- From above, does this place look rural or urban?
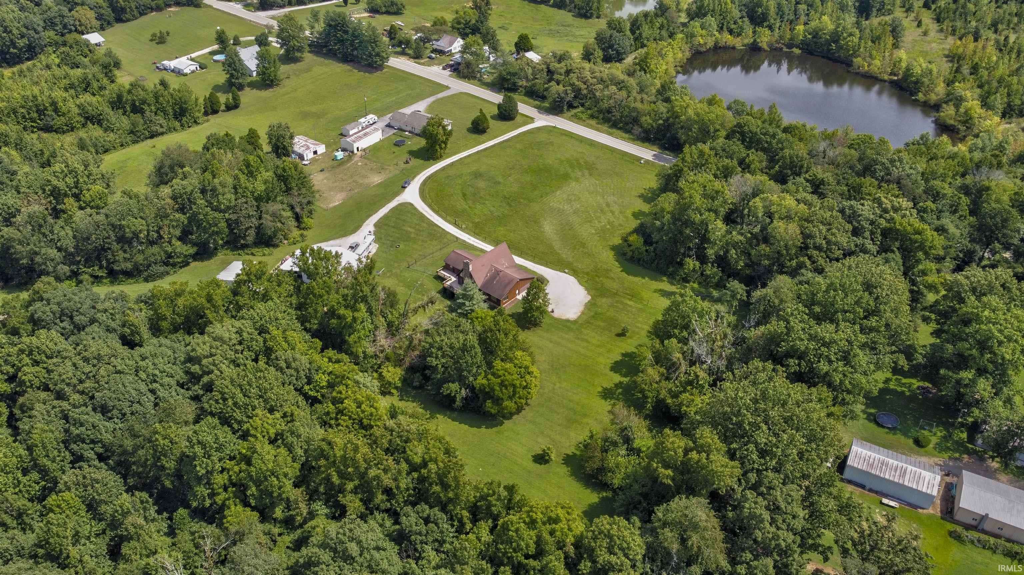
rural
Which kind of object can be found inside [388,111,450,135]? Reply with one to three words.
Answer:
house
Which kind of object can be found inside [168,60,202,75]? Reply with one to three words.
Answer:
building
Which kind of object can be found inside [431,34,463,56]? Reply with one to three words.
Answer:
house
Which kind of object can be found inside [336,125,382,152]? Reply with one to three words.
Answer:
shed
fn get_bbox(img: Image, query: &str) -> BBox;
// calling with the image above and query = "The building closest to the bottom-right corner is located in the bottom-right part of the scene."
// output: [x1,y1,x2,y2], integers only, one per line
[954,468,1024,543]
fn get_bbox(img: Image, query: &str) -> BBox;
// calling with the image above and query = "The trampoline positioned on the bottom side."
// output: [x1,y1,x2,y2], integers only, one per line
[874,412,901,431]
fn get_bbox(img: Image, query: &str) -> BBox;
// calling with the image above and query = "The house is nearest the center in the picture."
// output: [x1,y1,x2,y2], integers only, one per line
[436,241,537,307]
